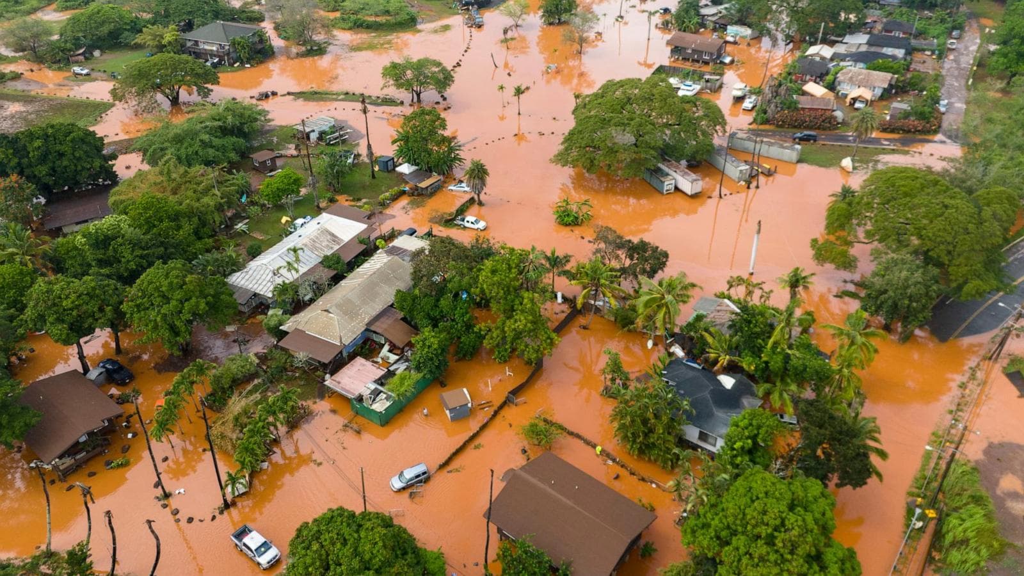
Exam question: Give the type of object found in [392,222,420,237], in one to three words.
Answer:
car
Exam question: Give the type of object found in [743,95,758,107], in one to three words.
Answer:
vehicle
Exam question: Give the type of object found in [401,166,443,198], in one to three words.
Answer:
shed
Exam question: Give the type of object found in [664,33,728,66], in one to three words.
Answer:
house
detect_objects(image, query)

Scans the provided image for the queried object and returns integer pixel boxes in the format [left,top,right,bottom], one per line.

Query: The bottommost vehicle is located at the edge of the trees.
[229,525,279,567]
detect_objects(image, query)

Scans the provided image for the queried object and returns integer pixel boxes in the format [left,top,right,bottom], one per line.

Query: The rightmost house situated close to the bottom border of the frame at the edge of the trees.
[482,454,660,576]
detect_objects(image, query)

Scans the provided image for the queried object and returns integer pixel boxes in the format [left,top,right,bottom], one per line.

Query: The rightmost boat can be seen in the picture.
[731,78,750,95]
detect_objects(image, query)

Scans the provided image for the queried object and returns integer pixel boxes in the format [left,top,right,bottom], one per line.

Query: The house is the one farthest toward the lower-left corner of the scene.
[14,373,128,480]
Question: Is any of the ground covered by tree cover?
Yes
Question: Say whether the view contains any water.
Yes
